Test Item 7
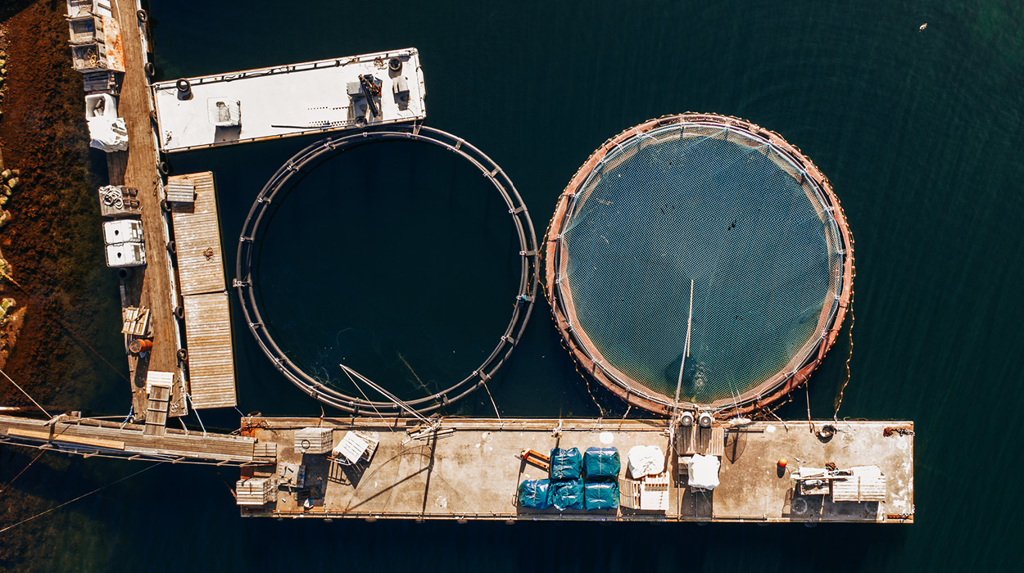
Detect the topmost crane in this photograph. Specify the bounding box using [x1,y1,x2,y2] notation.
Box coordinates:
[352,66,388,122]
